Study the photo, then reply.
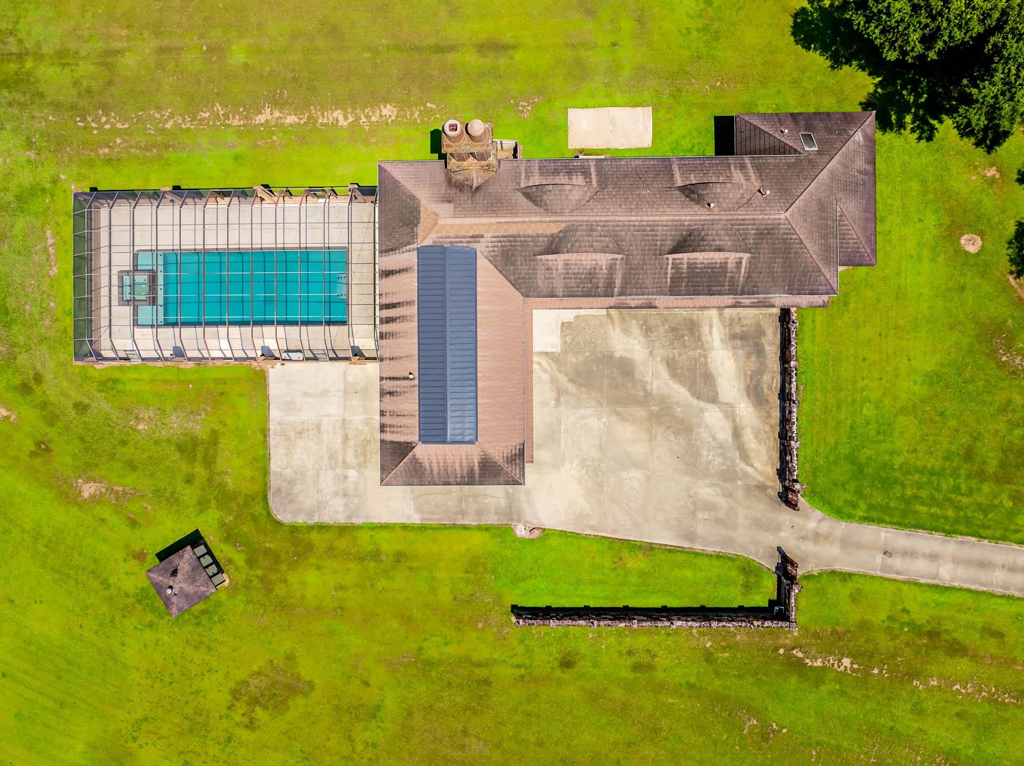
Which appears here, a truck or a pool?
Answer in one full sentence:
Of the two, only a pool appears.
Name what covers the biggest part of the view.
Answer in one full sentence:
For the most part, this view shows grass.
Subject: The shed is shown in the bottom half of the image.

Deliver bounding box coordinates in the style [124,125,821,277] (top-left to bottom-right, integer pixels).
[146,542,226,617]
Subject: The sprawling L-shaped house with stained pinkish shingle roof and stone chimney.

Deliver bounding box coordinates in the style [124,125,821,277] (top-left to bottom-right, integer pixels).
[377,111,877,486]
